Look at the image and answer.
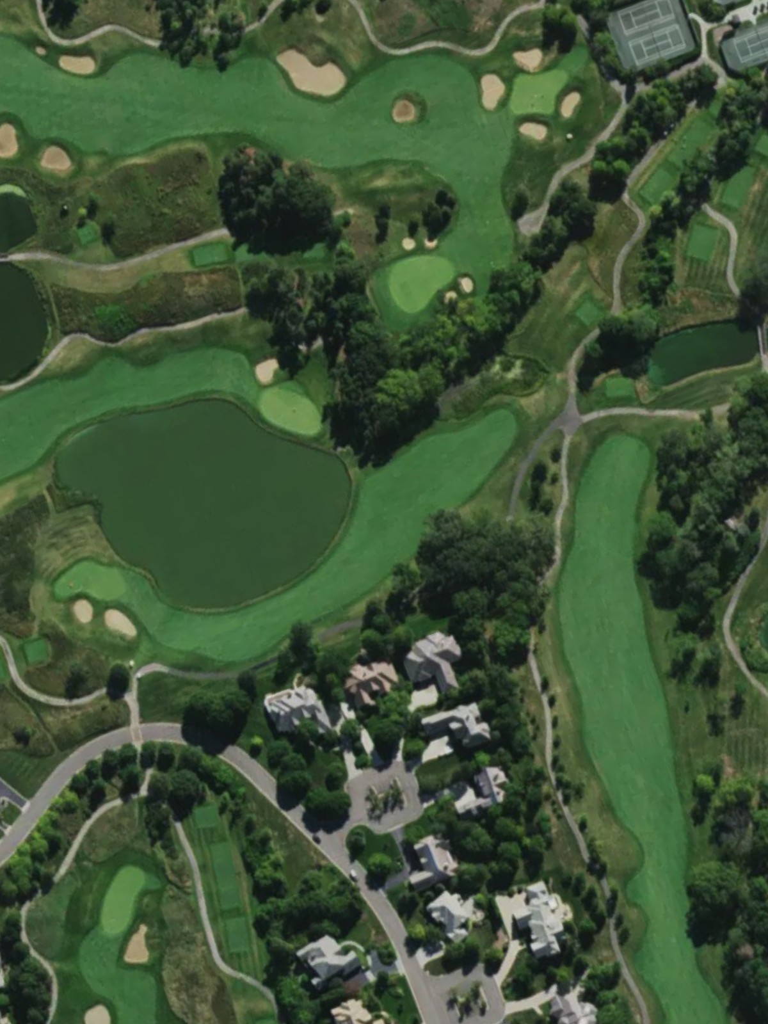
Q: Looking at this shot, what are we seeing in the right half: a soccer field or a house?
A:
house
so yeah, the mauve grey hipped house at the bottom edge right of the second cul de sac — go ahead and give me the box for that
[548,991,598,1024]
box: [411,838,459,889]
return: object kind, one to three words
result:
house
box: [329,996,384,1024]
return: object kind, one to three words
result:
house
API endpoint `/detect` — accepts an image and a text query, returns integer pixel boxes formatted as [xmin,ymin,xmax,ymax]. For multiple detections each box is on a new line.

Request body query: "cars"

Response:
[312,834,321,844]
[349,869,359,881]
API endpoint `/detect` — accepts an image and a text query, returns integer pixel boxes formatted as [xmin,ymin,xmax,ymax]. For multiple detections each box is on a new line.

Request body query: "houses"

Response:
[297,934,359,988]
[411,838,459,889]
[423,701,492,749]
[514,878,563,958]
[473,763,511,808]
[425,888,474,940]
[259,683,333,736]
[329,996,384,1024]
[548,991,598,1024]
[341,659,402,710]
[402,630,463,689]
